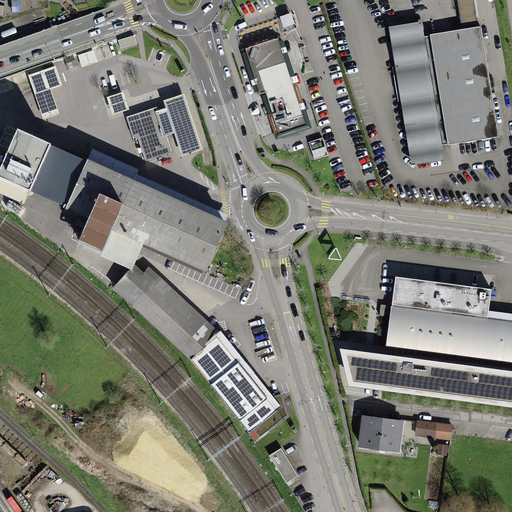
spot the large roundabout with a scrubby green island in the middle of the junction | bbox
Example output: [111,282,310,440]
[234,172,308,246]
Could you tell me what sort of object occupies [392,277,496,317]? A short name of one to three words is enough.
building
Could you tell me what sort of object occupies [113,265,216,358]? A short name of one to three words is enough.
shed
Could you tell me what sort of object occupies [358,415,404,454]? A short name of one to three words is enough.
house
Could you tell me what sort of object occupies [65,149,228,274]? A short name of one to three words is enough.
building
